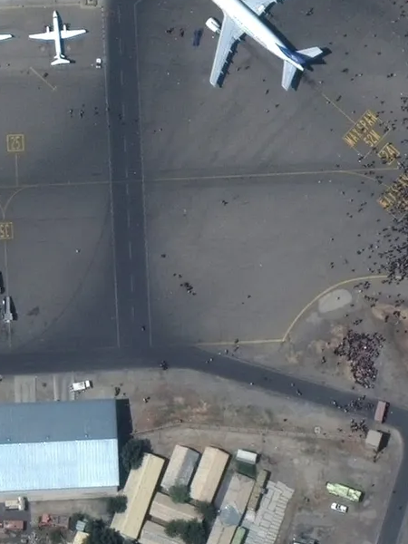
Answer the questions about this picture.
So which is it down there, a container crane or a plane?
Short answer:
plane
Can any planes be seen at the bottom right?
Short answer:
No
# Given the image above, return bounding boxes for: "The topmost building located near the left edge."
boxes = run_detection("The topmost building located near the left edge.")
[0,398,119,502]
